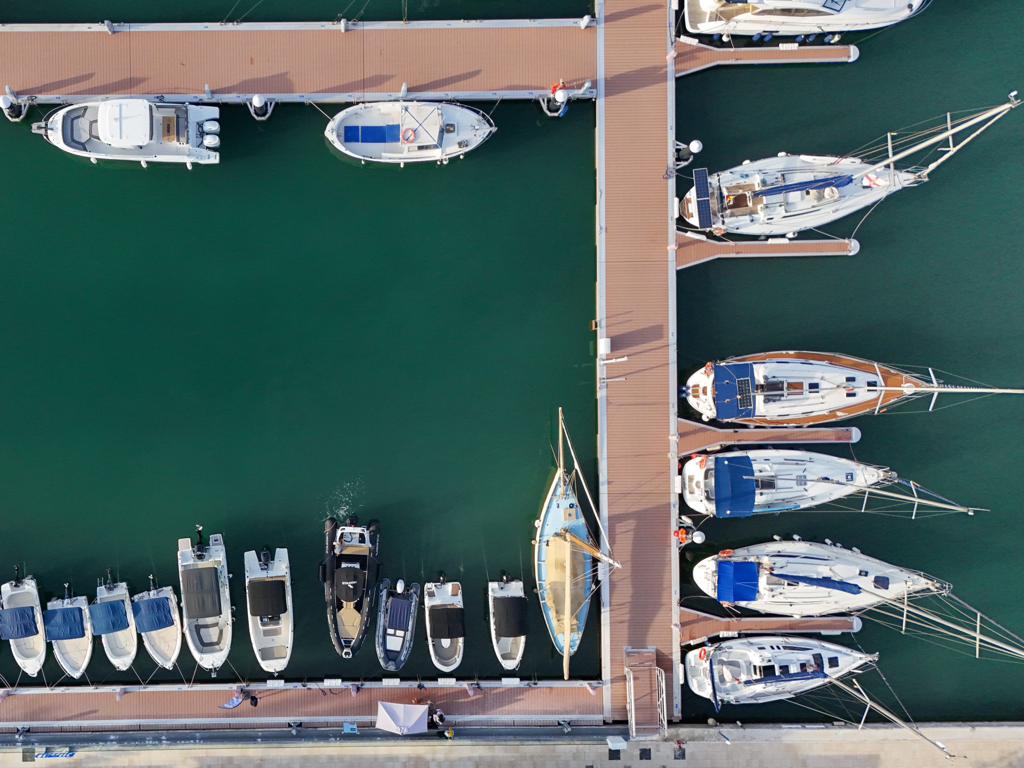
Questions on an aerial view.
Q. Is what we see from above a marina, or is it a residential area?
marina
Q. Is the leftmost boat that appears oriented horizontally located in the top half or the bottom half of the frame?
top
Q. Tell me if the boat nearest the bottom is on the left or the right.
right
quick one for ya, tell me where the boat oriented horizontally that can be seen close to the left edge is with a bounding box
[32,99,222,167]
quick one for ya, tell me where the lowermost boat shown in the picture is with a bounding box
[683,635,968,761]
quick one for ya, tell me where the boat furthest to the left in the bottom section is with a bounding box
[0,564,48,677]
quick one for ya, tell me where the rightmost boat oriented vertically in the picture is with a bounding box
[534,406,623,680]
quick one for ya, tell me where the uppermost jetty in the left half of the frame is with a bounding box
[0,18,596,123]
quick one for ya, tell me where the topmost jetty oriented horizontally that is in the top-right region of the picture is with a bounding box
[675,36,859,79]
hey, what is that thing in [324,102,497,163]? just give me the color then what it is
white boat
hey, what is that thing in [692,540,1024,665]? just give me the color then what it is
white boat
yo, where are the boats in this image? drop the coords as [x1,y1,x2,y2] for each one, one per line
[692,540,1024,665]
[683,635,968,761]
[45,583,94,679]
[676,0,930,41]
[376,578,419,672]
[424,570,465,672]
[90,568,138,671]
[324,515,380,658]
[0,564,48,677]
[133,575,182,670]
[675,350,1024,426]
[678,90,1023,236]
[32,99,222,167]
[534,406,623,680]
[324,102,497,163]
[178,527,232,677]
[488,569,526,670]
[244,547,294,676]
[681,449,990,519]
